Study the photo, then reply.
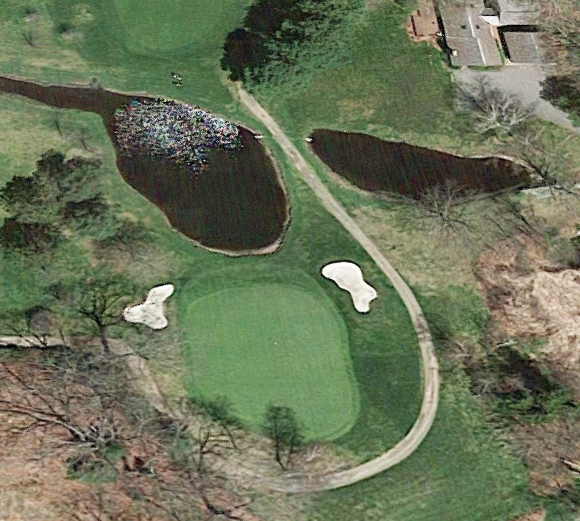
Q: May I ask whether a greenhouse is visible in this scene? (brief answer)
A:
No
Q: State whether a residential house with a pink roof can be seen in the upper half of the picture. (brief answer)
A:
No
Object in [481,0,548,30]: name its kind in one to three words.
house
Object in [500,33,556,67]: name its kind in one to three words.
building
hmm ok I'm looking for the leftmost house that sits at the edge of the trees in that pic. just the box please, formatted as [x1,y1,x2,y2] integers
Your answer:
[428,0,503,70]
